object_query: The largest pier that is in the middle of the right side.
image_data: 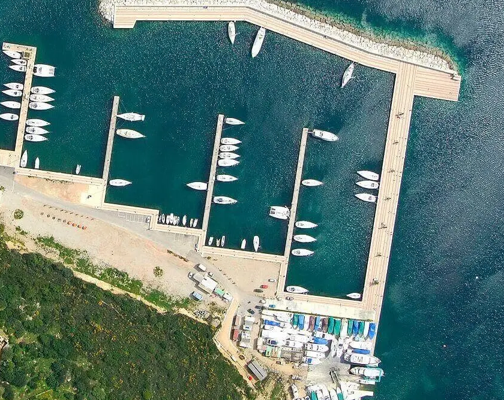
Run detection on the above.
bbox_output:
[361,60,415,356]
